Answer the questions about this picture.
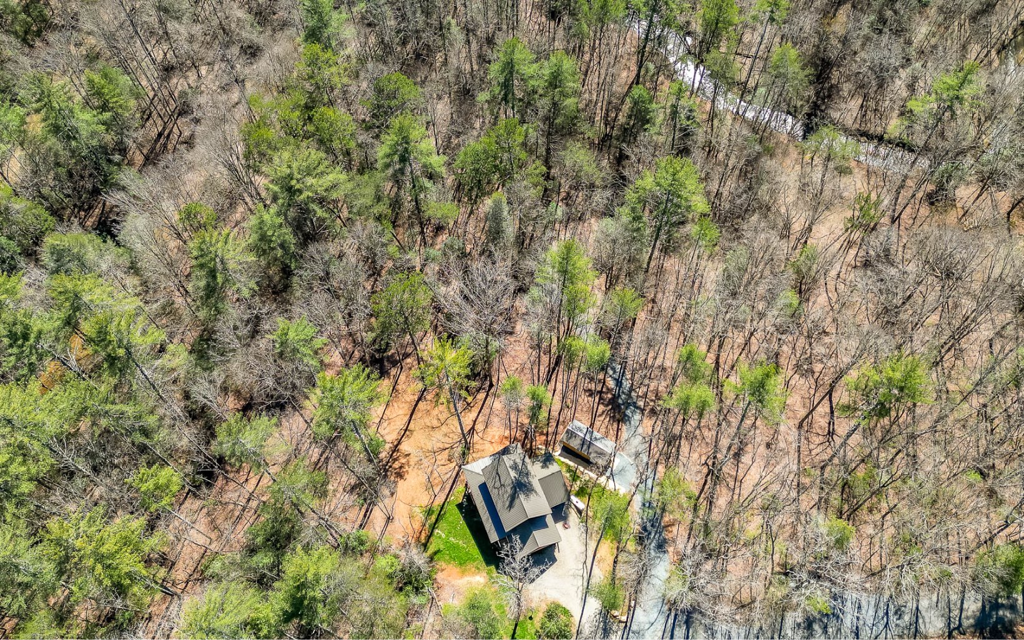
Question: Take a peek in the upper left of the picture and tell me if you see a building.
No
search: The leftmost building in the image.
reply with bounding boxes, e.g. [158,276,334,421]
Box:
[462,444,571,563]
